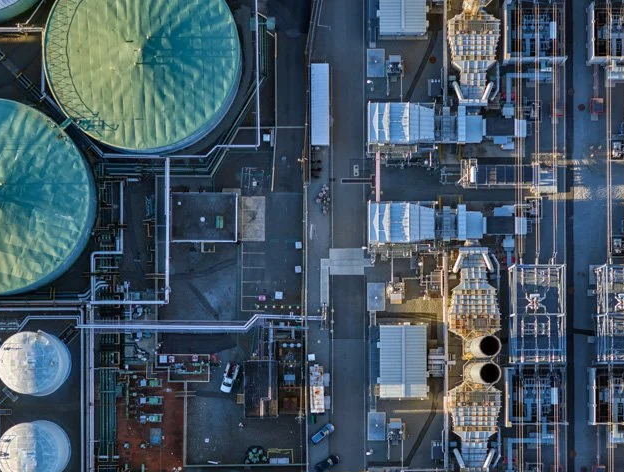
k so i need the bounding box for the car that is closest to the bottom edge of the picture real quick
[313,454,340,472]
